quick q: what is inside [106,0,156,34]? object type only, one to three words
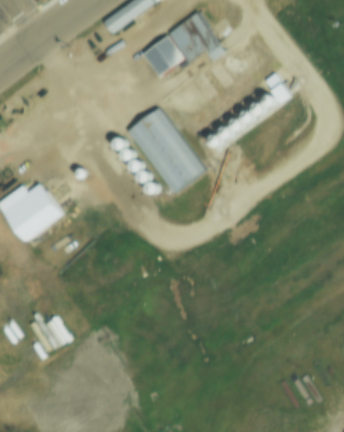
building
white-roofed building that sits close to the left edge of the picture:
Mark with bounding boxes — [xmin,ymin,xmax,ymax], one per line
[0,182,66,242]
